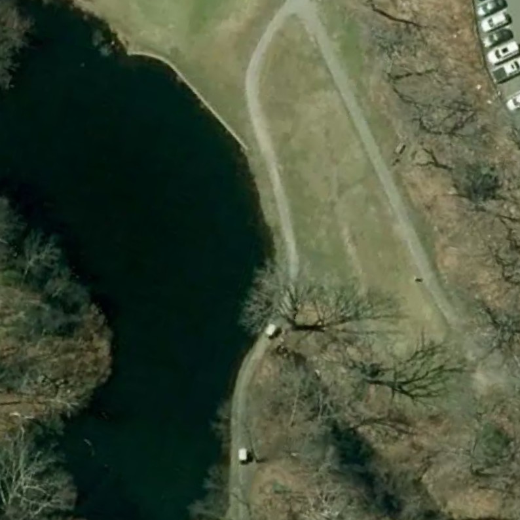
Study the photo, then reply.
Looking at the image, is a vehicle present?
Yes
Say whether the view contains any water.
Yes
